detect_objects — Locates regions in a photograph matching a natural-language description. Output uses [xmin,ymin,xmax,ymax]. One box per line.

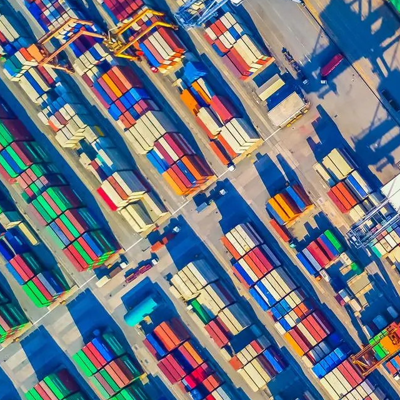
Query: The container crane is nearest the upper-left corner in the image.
[25,13,109,72]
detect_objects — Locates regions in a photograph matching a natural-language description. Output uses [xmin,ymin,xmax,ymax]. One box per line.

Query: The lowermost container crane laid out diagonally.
[351,319,400,375]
